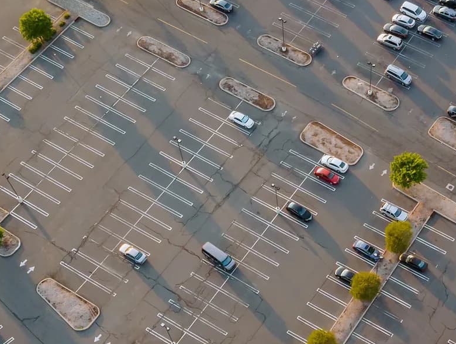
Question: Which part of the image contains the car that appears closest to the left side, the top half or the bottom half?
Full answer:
You can find the car that appears closest to the left side in the bottom half.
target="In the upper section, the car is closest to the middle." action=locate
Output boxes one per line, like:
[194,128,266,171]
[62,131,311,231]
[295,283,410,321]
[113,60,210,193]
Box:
[227,111,255,130]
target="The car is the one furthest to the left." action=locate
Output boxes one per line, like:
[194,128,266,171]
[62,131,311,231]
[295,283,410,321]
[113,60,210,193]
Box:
[118,243,149,265]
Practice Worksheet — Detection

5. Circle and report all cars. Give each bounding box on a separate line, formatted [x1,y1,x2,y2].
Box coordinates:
[352,239,383,262]
[319,154,349,175]
[398,1,426,21]
[377,33,403,50]
[118,243,149,265]
[227,111,255,130]
[383,23,410,39]
[383,64,413,84]
[432,5,456,22]
[415,24,443,41]
[284,200,314,222]
[312,165,342,186]
[330,265,354,285]
[398,251,430,274]
[440,0,456,11]
[378,200,409,223]
[390,13,417,30]
[208,0,233,13]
